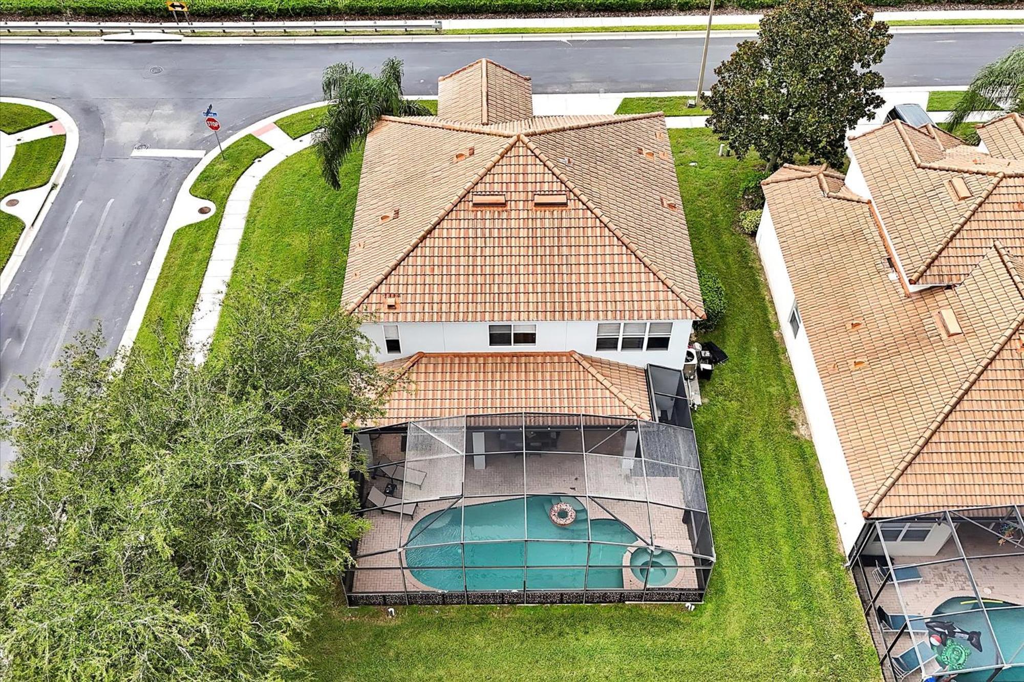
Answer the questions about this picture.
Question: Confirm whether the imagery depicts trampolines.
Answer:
No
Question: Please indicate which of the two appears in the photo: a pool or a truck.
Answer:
pool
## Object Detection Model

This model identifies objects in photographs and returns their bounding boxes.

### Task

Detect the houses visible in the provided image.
[757,105,1024,557]
[336,55,710,472]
